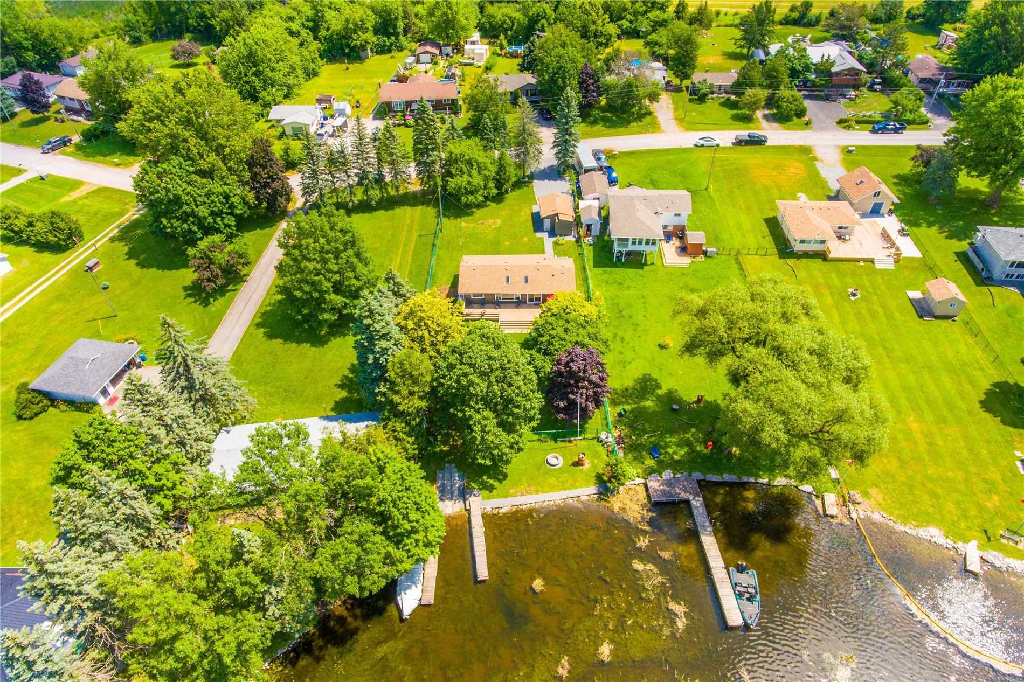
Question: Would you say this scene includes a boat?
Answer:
Yes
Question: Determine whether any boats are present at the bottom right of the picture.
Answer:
Yes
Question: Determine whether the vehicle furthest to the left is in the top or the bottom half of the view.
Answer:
top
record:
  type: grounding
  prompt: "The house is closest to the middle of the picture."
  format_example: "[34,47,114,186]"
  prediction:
[457,255,575,310]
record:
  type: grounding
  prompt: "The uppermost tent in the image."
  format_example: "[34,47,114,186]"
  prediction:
[463,43,488,60]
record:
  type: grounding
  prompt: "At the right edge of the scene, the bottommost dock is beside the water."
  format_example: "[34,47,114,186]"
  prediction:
[960,540,986,580]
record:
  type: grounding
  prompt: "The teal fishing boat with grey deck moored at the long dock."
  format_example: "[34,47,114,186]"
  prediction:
[731,560,763,629]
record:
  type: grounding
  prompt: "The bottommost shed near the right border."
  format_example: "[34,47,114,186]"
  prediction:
[926,274,973,317]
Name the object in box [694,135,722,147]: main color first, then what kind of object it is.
white vehicle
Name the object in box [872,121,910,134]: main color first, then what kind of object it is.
blue vehicle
